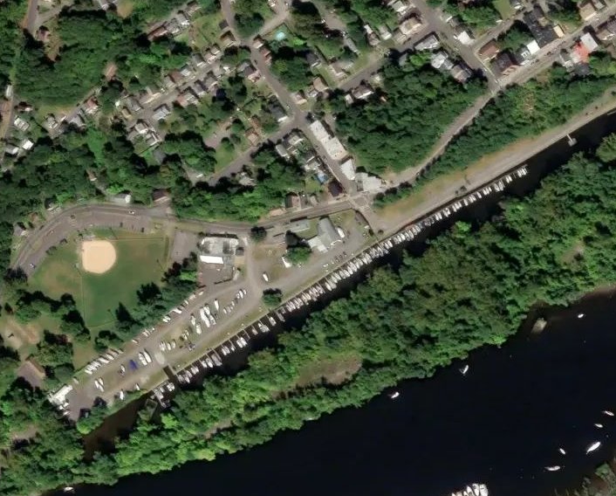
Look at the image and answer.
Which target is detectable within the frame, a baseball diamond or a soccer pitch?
baseball diamond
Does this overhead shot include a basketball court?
No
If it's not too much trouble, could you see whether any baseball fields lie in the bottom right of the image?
No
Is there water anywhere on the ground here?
Yes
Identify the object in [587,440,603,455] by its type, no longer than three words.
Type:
boat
